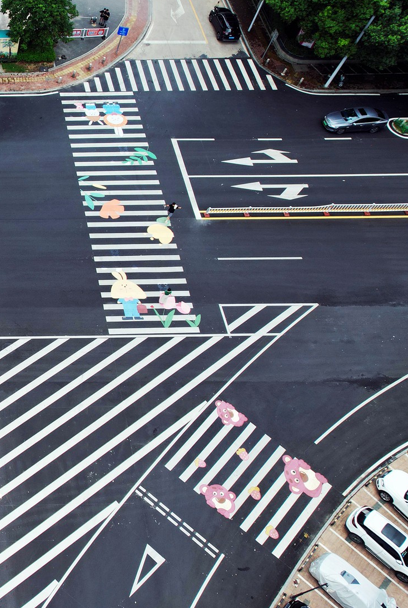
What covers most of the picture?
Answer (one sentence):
What you mostly see from above here is paved ground.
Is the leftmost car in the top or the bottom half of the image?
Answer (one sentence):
Seen from above, the leftmost car lies in the top half of the view.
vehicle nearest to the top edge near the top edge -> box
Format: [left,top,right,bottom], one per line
[209,7,246,45]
